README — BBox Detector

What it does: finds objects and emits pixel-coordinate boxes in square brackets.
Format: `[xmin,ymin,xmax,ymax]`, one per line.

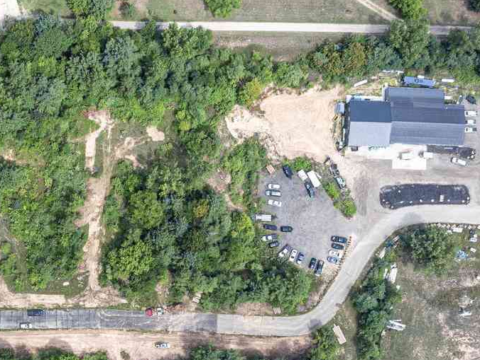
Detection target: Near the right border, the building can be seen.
[345,87,468,148]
